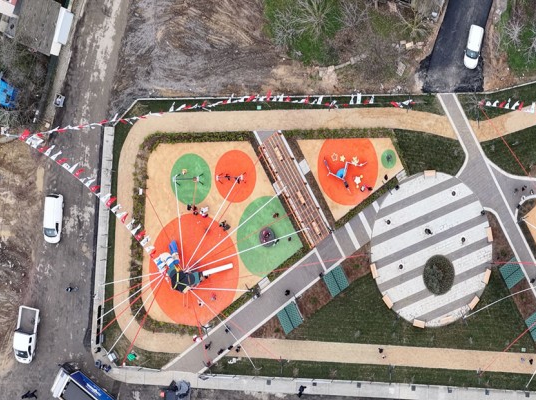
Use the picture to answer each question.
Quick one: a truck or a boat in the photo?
truck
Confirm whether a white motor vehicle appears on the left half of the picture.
Yes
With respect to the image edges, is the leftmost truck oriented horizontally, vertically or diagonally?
vertically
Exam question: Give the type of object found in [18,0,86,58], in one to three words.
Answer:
house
